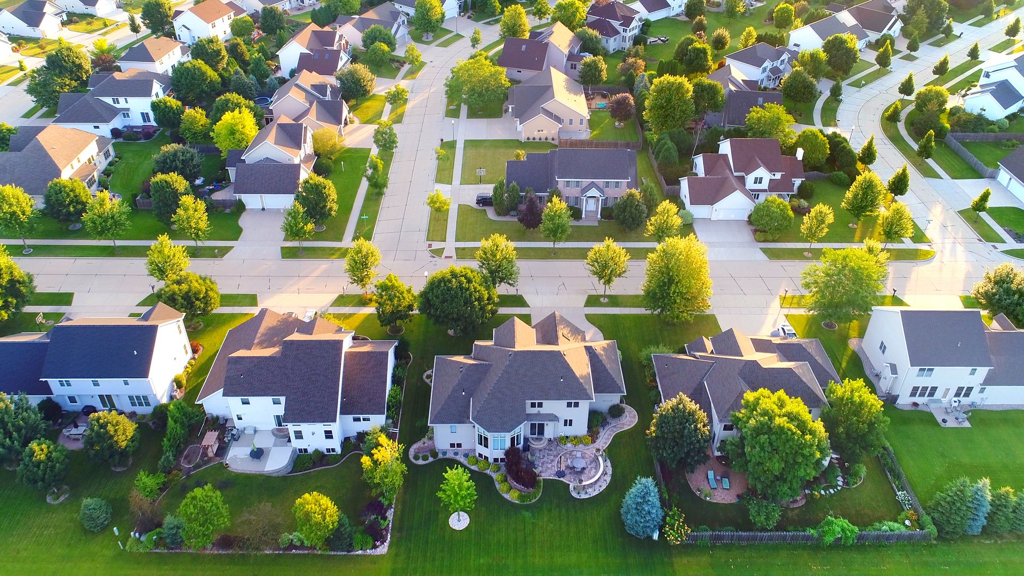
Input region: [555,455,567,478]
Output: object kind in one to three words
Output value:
umbrella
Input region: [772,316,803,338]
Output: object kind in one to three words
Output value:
car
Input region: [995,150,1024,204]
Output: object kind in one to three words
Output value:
house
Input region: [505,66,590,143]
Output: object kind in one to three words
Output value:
house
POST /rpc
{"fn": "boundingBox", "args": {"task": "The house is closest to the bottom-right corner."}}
[864,297,1024,403]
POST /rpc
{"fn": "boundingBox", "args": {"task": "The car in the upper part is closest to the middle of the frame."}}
[471,193,499,207]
